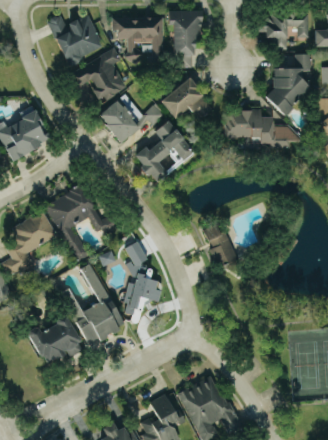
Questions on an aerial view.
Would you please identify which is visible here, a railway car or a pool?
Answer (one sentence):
It is a pool that can be seen here.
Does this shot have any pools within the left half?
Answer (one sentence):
Yes, a pool appears within the left half.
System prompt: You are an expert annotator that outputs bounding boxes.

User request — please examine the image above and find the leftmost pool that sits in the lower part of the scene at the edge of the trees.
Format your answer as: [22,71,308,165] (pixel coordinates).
[38,254,63,277]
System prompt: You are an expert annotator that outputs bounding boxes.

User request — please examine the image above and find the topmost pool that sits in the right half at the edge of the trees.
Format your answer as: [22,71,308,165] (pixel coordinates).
[288,107,306,131]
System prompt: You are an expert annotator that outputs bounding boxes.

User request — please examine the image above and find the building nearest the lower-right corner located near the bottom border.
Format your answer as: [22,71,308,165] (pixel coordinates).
[175,374,241,440]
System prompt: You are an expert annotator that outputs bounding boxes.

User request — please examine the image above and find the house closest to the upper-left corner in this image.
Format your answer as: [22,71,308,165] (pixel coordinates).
[48,12,104,66]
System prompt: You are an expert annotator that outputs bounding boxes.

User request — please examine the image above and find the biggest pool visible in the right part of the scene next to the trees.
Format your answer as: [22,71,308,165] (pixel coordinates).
[228,202,267,249]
